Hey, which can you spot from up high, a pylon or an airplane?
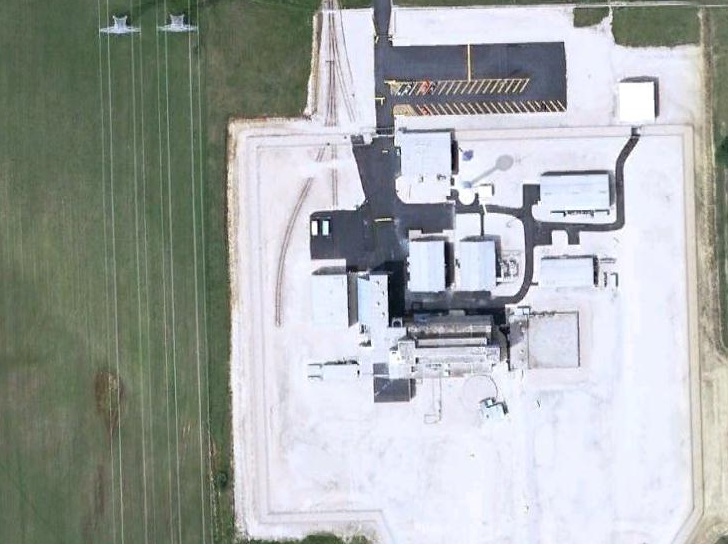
pylon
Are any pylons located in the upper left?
Yes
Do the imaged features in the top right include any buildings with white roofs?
Yes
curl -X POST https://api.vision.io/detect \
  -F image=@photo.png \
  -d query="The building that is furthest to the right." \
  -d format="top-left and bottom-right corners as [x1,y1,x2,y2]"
[619,80,655,122]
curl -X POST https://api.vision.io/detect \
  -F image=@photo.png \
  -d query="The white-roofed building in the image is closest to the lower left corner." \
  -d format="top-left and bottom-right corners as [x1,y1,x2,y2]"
[322,360,359,379]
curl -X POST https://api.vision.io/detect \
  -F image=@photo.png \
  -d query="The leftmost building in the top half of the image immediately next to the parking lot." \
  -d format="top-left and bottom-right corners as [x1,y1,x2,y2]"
[400,132,452,197]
